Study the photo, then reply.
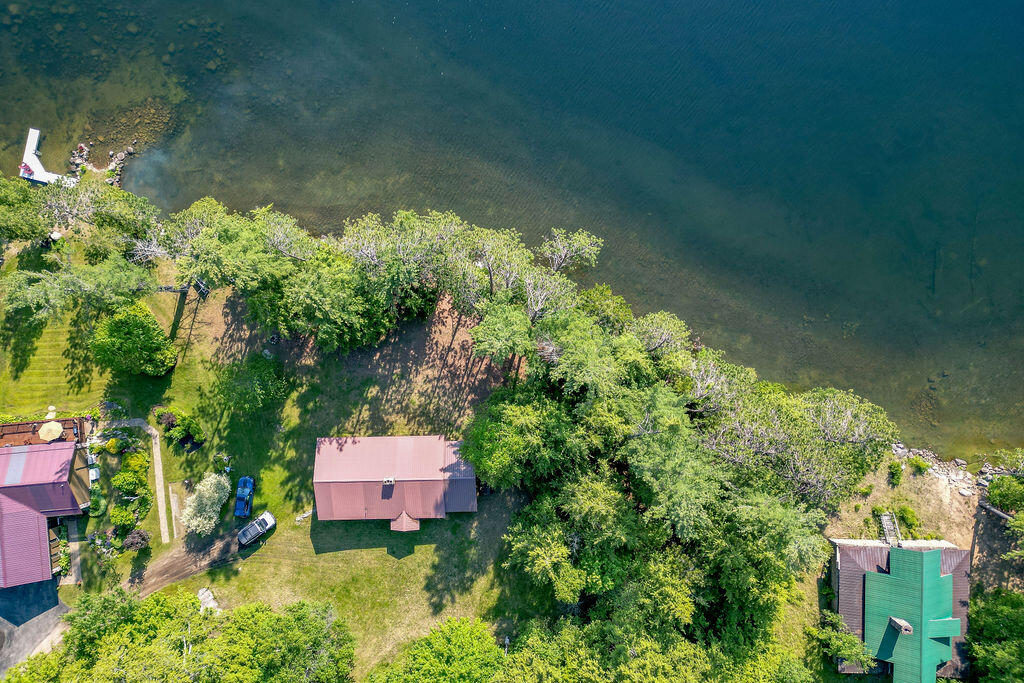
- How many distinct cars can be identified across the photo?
2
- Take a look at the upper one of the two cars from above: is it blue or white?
blue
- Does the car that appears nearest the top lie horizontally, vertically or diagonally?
vertically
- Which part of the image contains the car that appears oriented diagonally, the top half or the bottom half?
bottom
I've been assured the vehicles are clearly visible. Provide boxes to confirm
[237,512,278,548]
[234,476,256,518]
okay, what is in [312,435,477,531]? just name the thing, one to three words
house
